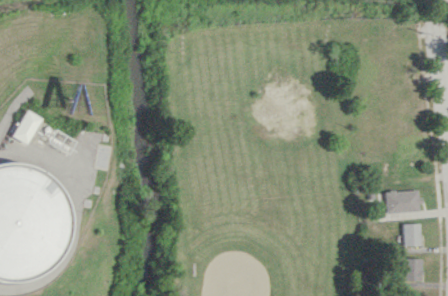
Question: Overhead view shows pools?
No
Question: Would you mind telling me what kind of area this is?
sports ground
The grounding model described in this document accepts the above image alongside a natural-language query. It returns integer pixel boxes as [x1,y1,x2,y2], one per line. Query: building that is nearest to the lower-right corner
[407,258,424,282]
